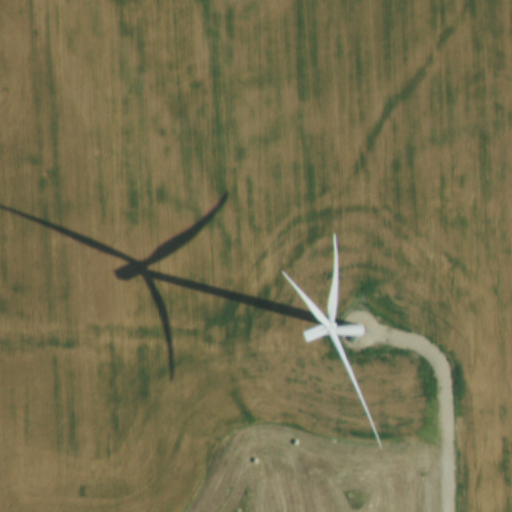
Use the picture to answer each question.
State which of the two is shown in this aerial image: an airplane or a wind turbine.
wind turbine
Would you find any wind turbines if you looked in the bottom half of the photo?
Yes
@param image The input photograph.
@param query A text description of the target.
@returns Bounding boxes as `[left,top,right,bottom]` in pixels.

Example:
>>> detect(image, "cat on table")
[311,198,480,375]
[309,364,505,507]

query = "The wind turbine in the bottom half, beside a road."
[280,233,380,448]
